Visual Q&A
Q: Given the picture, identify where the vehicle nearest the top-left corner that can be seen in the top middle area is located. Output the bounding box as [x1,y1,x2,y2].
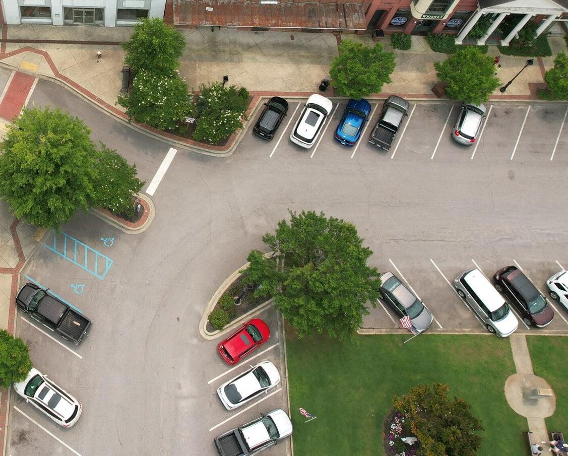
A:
[252,92,290,146]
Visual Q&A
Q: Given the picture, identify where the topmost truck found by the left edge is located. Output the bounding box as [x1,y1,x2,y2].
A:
[25,287,100,351]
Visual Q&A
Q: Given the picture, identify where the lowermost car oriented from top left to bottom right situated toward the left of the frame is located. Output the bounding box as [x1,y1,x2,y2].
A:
[14,371,81,431]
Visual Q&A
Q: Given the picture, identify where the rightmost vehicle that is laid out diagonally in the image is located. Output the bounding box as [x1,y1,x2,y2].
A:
[492,261,554,331]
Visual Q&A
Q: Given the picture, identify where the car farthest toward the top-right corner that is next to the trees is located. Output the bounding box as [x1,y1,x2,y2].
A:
[451,99,491,151]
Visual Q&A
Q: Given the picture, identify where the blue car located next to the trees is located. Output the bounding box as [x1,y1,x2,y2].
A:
[333,96,371,151]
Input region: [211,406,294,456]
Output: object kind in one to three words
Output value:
truck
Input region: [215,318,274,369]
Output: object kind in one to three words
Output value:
car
